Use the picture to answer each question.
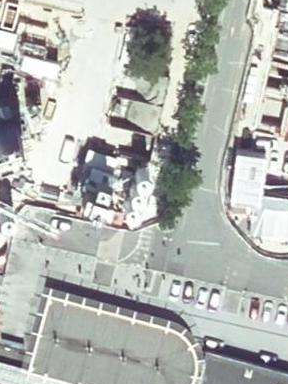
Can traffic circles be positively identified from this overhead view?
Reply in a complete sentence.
No, no traffic circle can be seen from above.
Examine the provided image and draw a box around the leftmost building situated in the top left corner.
[0,30,20,55]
